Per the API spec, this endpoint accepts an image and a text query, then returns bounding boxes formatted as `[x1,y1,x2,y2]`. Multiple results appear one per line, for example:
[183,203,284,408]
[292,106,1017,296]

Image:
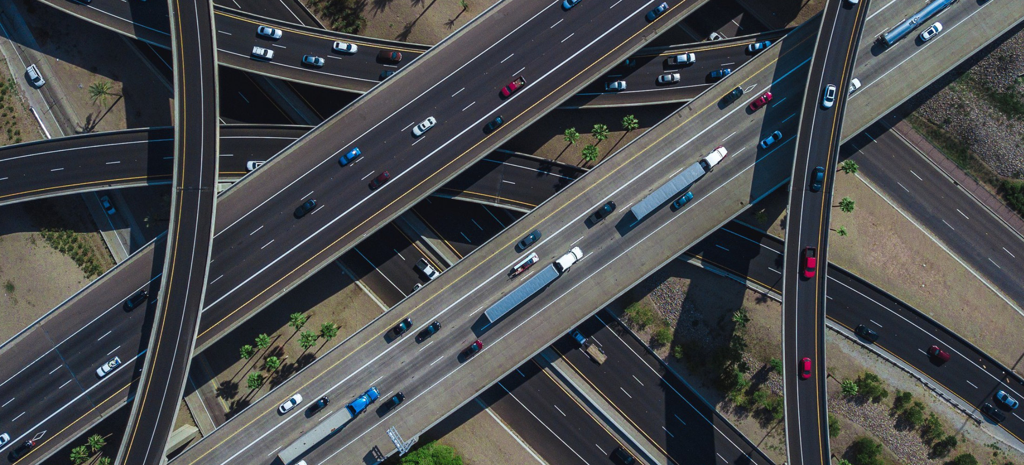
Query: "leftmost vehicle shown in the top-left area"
[26,64,45,87]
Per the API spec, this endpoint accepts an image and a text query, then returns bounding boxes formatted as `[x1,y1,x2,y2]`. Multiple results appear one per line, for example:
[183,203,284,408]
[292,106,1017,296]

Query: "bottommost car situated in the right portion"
[611,445,634,465]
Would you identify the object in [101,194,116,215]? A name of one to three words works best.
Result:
car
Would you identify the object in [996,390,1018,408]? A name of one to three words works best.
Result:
car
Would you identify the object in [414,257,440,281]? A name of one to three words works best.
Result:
truck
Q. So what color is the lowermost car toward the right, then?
black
